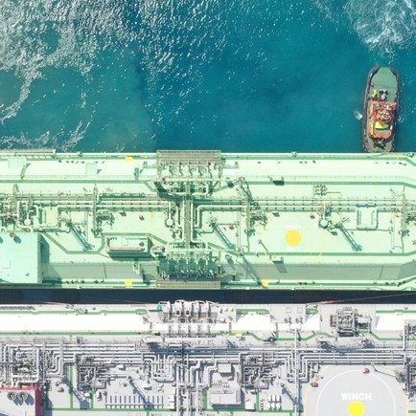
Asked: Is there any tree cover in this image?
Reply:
No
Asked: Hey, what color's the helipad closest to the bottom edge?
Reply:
white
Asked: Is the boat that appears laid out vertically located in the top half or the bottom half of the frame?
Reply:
top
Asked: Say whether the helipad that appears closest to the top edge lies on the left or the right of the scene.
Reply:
right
